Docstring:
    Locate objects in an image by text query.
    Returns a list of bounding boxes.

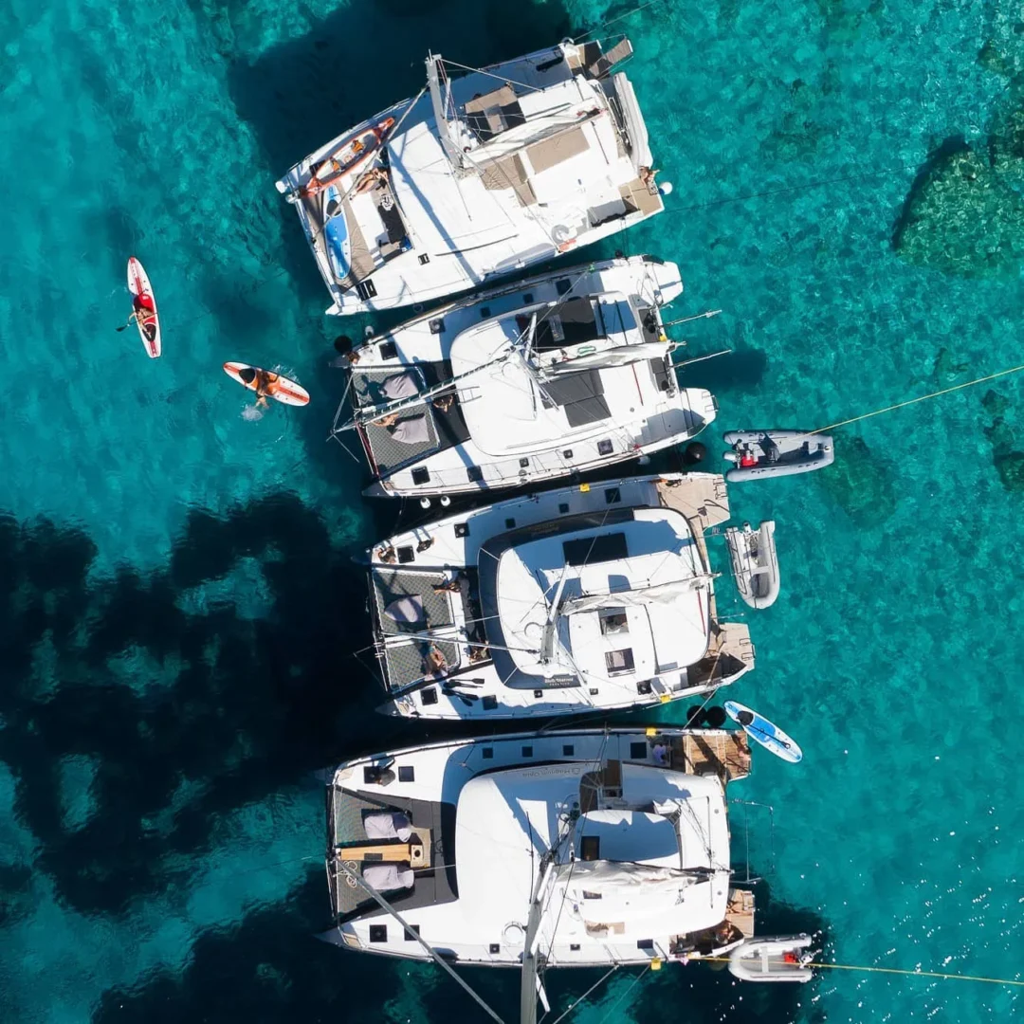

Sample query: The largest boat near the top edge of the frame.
[272,34,664,317]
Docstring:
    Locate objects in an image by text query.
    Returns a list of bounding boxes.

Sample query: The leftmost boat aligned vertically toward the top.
[612,69,655,183]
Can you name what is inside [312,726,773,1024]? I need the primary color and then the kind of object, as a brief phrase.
white boat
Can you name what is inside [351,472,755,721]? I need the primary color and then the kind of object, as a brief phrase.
white boat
